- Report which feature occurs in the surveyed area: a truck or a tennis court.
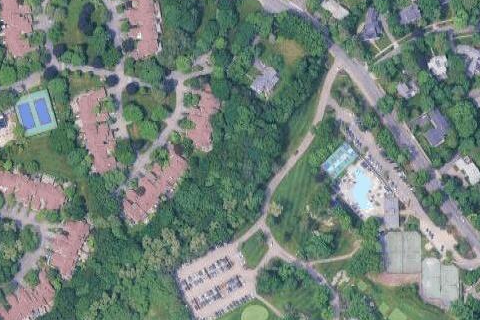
tennis court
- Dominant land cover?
trees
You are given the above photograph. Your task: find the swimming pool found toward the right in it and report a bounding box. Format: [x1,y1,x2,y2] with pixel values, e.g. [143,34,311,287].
[340,160,386,221]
